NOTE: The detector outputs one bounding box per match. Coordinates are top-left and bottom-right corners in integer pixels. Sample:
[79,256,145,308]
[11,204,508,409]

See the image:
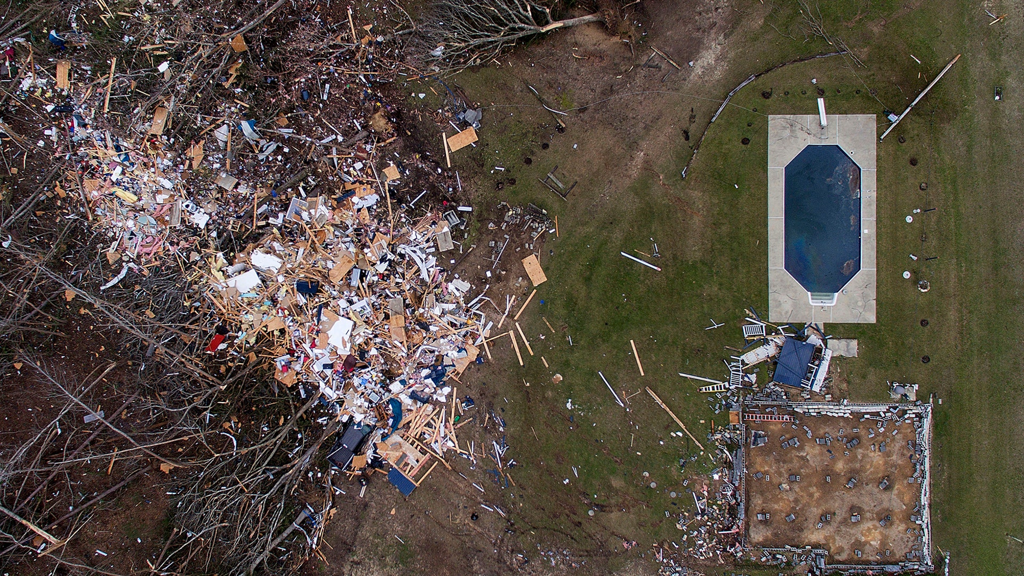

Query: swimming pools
[783,143,870,311]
